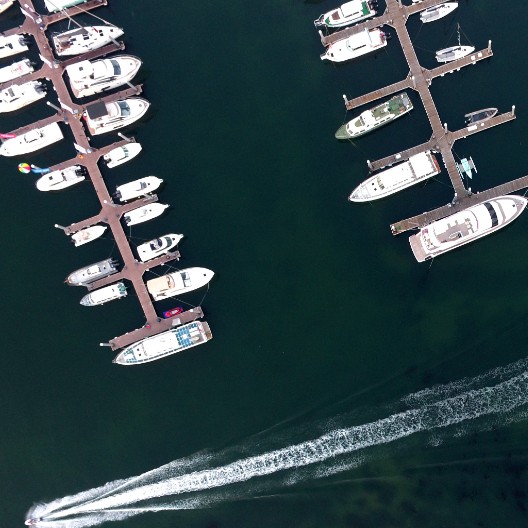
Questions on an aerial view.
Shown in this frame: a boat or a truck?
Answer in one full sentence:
There is a boat in the scene.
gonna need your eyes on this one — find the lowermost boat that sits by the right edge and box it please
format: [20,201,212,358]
[412,195,528,261]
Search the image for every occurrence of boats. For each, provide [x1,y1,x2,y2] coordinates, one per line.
[138,233,185,262]
[86,98,151,136]
[71,226,107,246]
[0,124,67,156]
[0,81,51,112]
[36,167,89,191]
[0,60,38,81]
[0,37,33,59]
[48,0,127,57]
[69,55,143,98]
[149,268,214,300]
[350,153,442,200]
[124,204,170,227]
[436,31,475,62]
[463,109,497,126]
[318,1,378,25]
[322,30,388,60]
[66,259,121,285]
[163,305,183,318]
[79,283,131,305]
[105,144,143,169]
[421,2,458,24]
[109,322,213,365]
[46,0,84,12]
[336,92,414,137]
[412,195,528,261]
[115,178,163,201]
[24,517,41,524]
